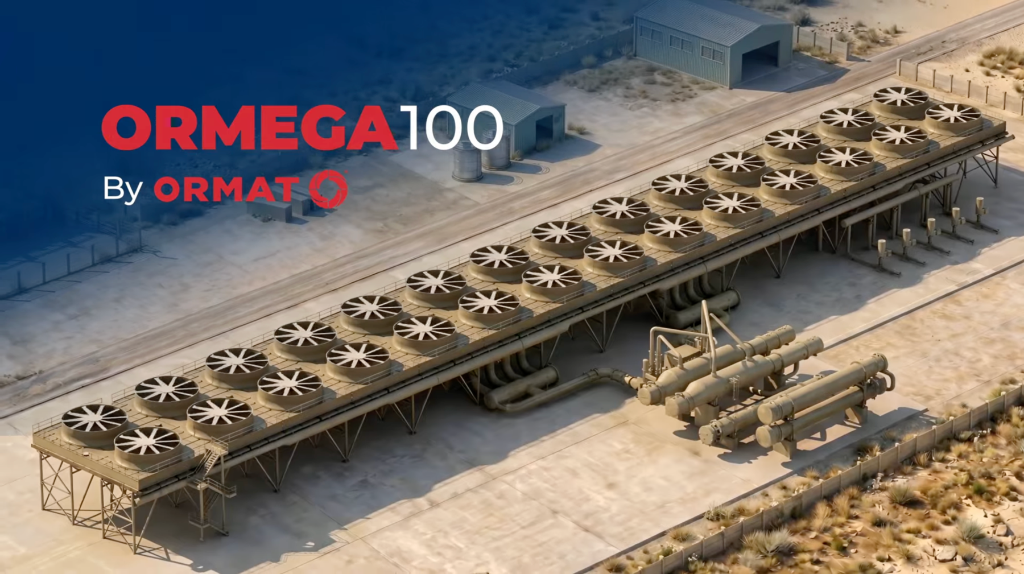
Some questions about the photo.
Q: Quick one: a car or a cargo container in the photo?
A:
cargo container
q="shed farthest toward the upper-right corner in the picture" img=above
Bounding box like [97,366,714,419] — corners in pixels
[629,0,797,88]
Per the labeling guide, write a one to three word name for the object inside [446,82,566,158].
shed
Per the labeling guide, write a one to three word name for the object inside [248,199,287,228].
shipping container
